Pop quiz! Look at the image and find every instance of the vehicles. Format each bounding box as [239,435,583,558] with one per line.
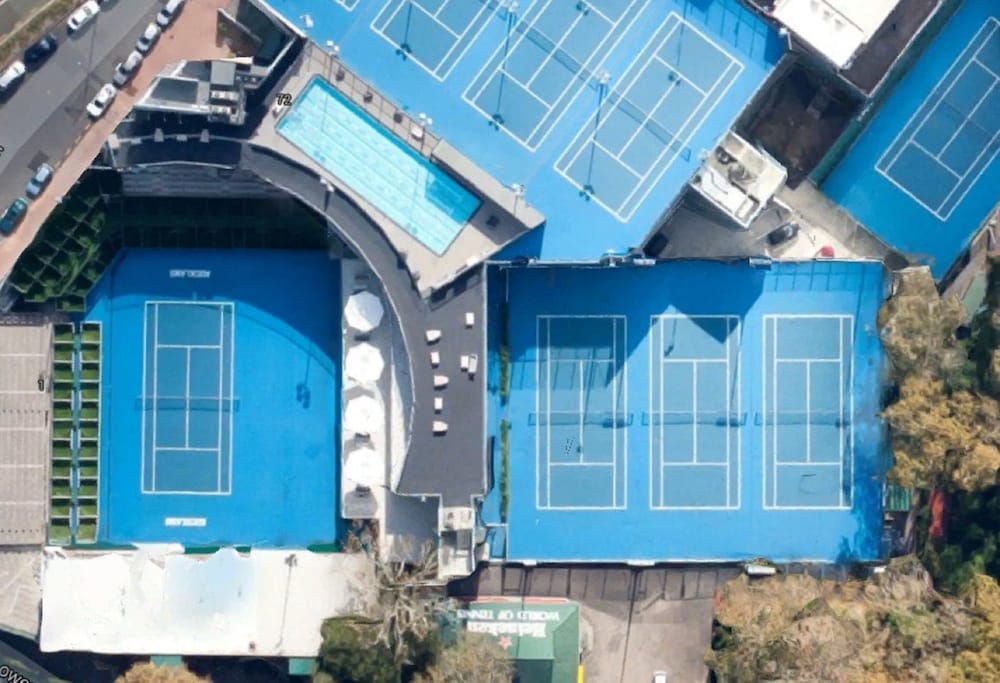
[642,227,669,260]
[25,163,55,197]
[0,198,28,235]
[85,83,118,117]
[156,0,188,24]
[113,51,143,85]
[135,21,163,55]
[764,220,802,246]
[0,60,26,92]
[66,0,102,32]
[23,32,59,64]
[928,492,945,535]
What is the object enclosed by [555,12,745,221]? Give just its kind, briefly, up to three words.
tennis court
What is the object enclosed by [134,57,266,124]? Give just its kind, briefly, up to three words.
building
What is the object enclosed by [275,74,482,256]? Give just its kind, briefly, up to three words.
swimming pool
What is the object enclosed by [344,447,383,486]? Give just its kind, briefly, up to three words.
umbrella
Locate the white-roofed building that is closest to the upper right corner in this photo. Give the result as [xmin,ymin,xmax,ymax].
[768,0,898,72]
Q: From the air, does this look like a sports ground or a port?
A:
sports ground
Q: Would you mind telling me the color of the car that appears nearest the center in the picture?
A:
black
